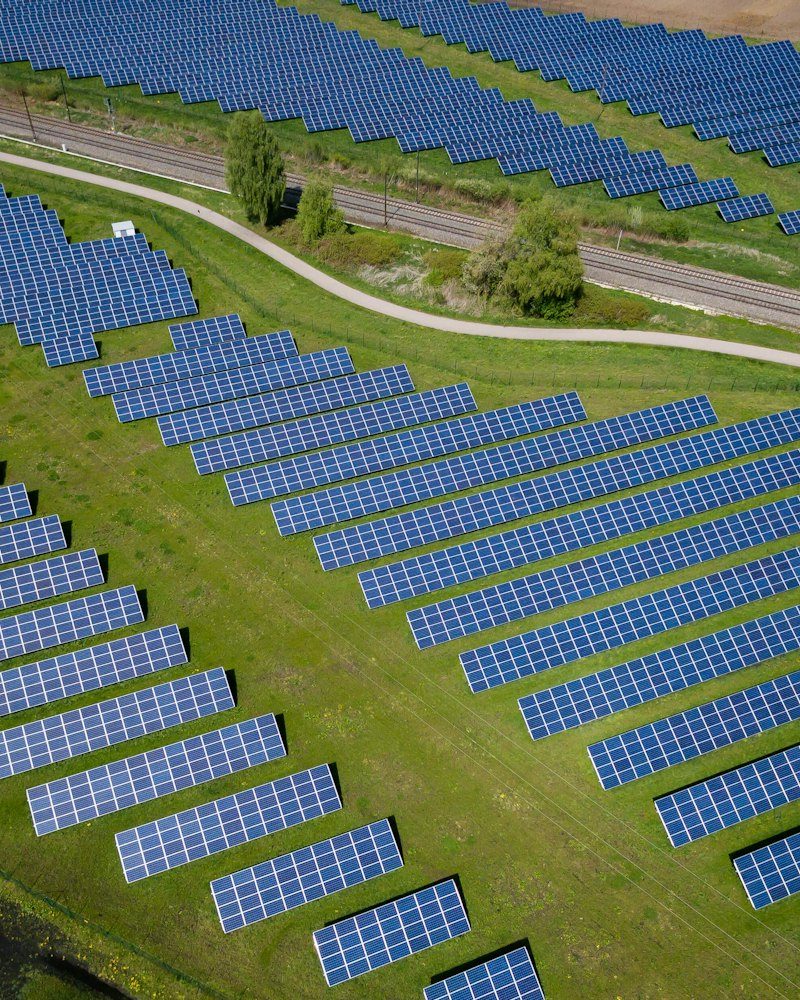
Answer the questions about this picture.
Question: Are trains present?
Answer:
No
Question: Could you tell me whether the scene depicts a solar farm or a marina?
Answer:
solar farm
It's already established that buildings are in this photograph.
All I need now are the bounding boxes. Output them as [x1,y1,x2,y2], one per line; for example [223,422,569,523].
[110,220,134,238]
